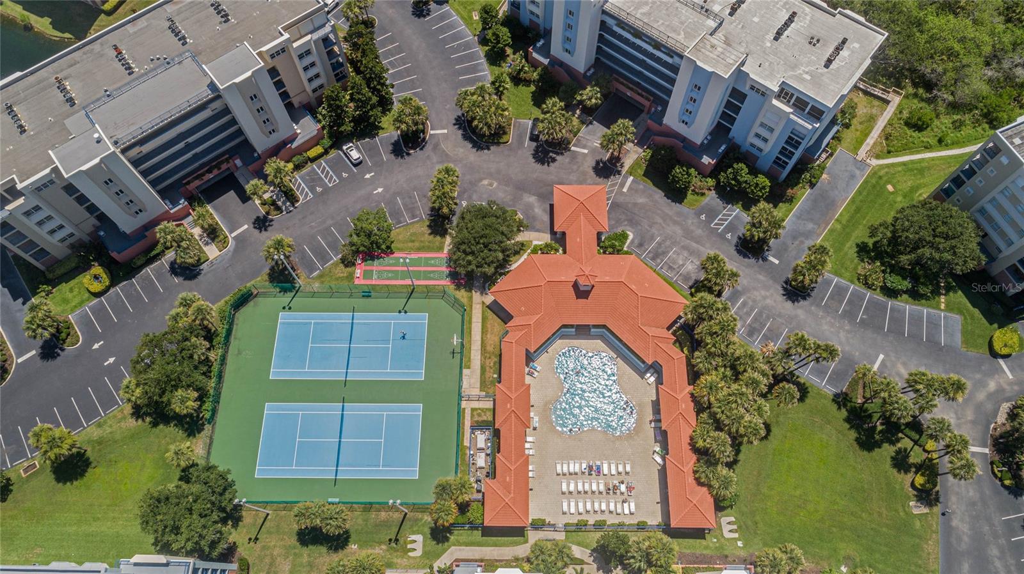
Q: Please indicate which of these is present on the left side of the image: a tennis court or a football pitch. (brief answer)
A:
tennis court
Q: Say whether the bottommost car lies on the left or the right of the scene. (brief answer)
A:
left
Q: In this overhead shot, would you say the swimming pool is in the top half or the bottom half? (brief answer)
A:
bottom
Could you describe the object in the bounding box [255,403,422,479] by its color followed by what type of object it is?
blue tennis court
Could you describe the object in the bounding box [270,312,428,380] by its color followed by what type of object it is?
blue tennis court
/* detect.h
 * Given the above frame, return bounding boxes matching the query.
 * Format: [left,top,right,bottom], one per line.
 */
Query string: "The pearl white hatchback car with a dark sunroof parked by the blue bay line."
[341,143,365,165]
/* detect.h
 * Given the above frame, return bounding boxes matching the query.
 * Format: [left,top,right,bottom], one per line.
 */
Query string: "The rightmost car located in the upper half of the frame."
[526,119,541,143]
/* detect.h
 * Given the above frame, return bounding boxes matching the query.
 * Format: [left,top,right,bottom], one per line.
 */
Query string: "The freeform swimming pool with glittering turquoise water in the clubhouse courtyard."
[550,345,639,437]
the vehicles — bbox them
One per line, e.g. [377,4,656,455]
[325,0,343,14]
[341,143,365,165]
[526,119,541,143]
